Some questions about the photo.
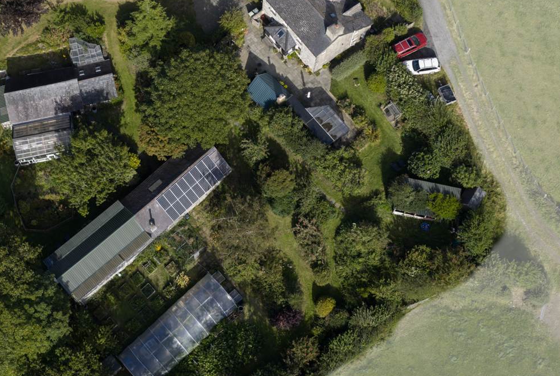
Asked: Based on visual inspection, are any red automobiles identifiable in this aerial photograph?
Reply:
Yes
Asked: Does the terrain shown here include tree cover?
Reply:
Yes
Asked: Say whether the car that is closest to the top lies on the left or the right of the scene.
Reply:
right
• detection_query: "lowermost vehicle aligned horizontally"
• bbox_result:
[404,56,441,75]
